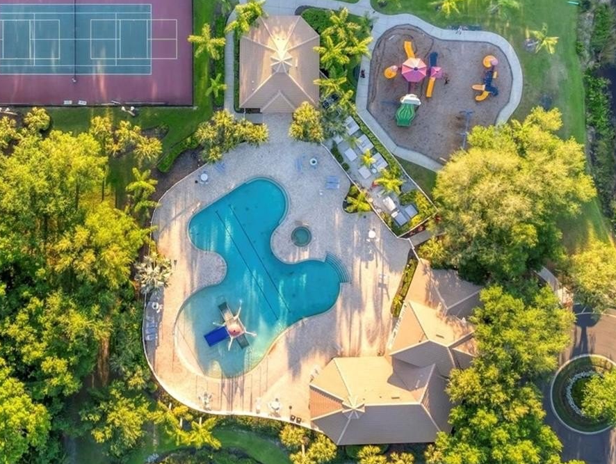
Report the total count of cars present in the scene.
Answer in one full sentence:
The count of cars is 0.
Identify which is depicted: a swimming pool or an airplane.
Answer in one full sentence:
Visible in the photo is a swimming pool.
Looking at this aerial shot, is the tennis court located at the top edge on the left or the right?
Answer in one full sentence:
It is on the left.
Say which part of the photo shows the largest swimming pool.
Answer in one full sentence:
The largest swimming pool sits in the center section of the image.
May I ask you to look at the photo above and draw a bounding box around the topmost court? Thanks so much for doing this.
[0,0,193,104]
